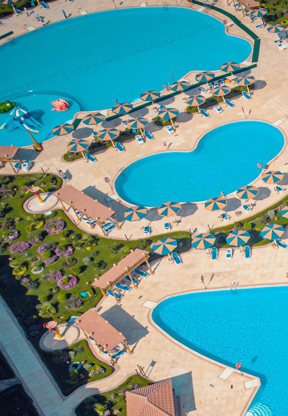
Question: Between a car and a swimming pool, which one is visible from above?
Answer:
swimming pool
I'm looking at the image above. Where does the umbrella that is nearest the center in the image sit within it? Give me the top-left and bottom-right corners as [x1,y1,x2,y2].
[124,207,151,230]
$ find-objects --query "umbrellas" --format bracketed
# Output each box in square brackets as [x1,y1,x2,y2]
[97,128,122,148]
[234,186,261,209]
[266,25,286,39]
[186,95,208,115]
[260,225,287,249]
[195,71,217,91]
[112,103,134,122]
[124,207,151,230]
[157,107,181,128]
[204,198,230,220]
[211,85,232,105]
[261,172,286,193]
[250,9,269,25]
[1,0,20,11]
[191,233,219,257]
[236,76,257,94]
[67,140,92,161]
[170,82,192,100]
[83,113,107,133]
[139,90,163,110]
[225,231,252,254]
[126,118,150,137]
[220,63,242,81]
[151,239,179,263]
[52,123,77,144]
